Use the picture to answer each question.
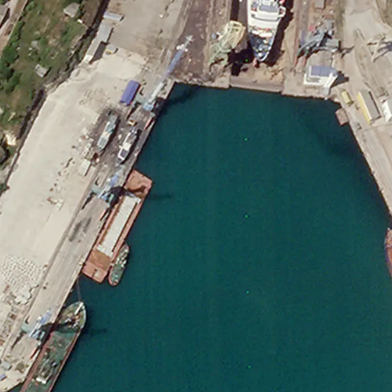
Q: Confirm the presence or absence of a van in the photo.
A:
No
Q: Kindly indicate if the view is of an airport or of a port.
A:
port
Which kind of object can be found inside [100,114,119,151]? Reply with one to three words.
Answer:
boat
